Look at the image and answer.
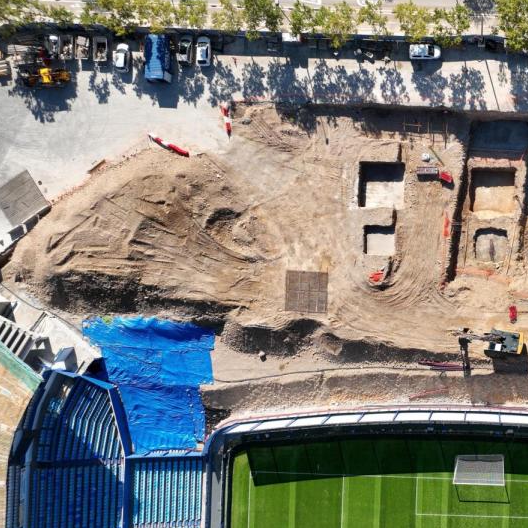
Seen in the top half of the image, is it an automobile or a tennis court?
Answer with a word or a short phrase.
automobile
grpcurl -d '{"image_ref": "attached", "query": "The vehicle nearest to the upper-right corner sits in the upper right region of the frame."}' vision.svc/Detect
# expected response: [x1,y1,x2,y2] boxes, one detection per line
[409,43,442,60]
